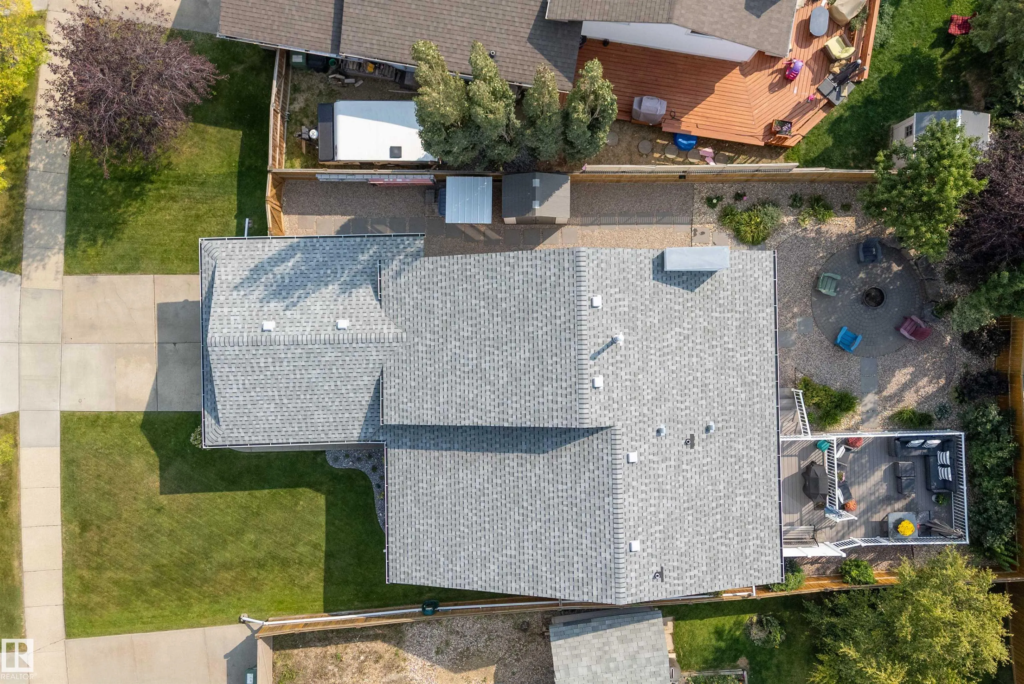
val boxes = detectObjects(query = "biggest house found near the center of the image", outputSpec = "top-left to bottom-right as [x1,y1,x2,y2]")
[197,220,786,604]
